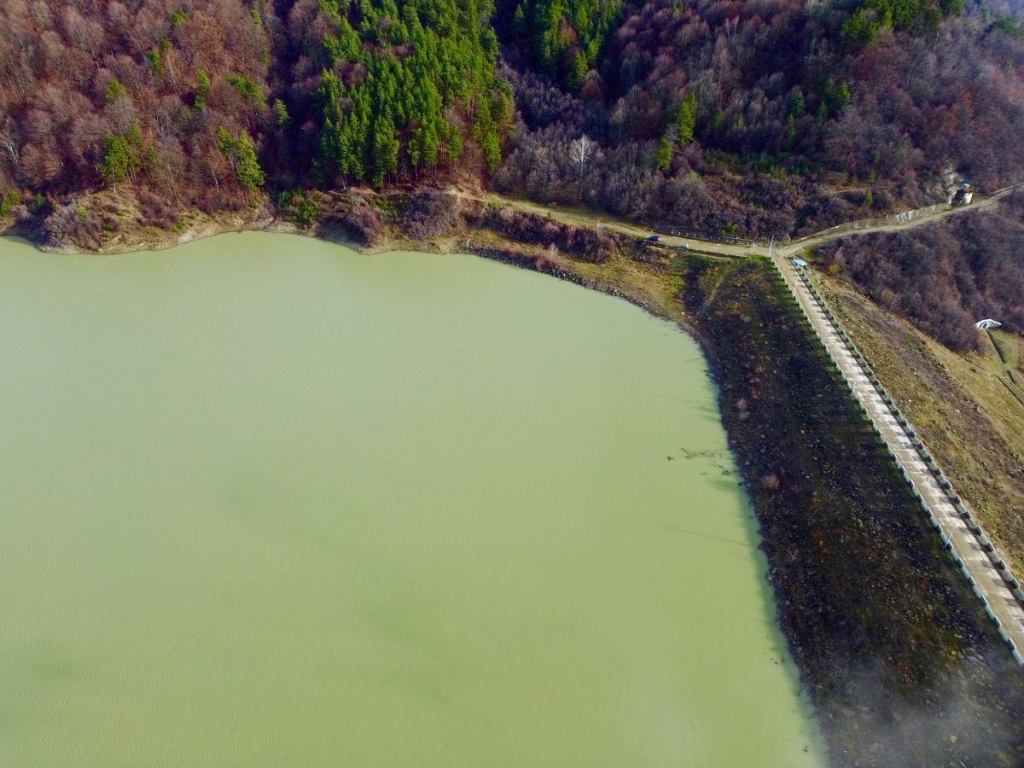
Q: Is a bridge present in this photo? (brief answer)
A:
No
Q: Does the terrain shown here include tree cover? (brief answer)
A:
Yes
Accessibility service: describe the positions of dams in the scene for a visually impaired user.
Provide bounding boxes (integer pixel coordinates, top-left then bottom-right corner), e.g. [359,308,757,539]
[663,255,1024,768]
